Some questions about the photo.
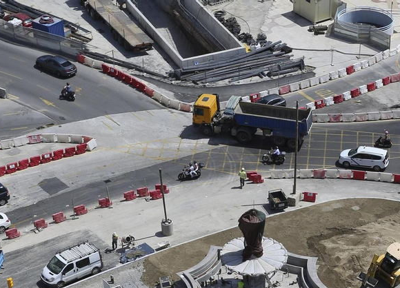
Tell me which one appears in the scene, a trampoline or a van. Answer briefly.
van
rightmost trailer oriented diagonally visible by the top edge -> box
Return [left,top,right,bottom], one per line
[86,0,155,53]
